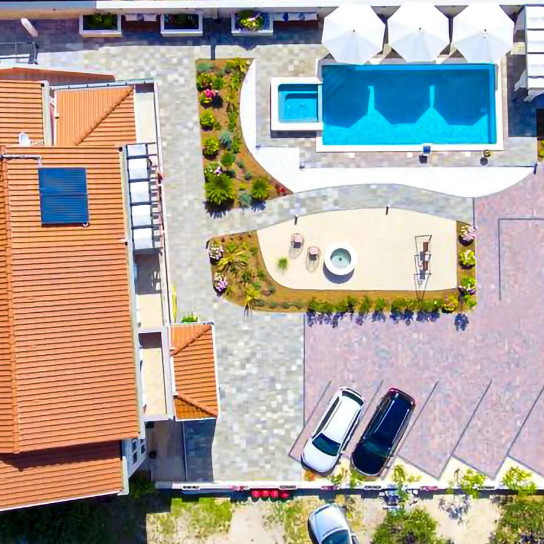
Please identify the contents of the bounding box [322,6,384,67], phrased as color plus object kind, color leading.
white umbrella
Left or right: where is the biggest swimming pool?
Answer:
right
